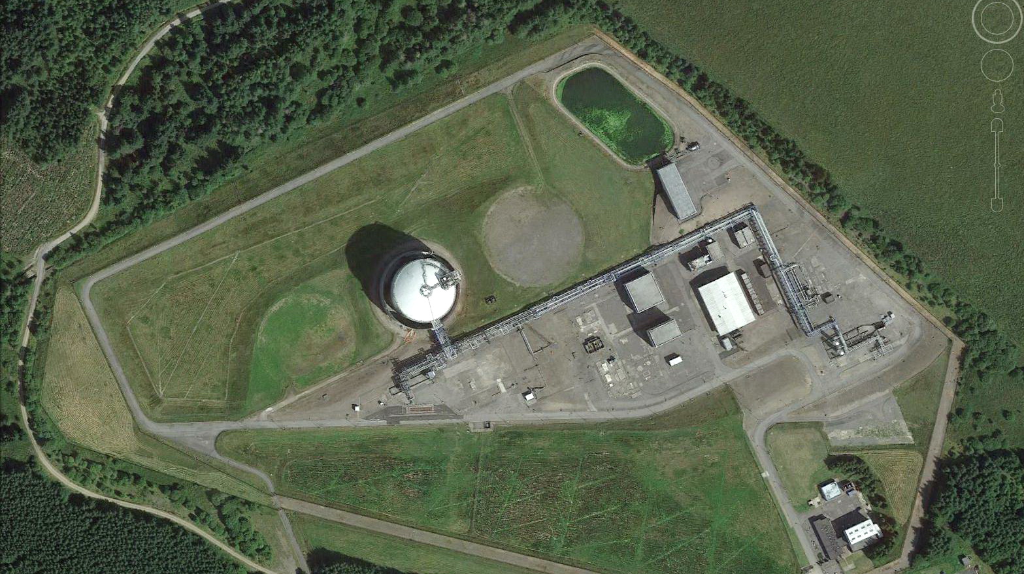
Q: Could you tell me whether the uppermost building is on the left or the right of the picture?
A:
right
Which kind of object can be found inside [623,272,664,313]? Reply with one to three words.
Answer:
house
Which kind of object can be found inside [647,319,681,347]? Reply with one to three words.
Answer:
house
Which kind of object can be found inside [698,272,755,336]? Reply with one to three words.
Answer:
building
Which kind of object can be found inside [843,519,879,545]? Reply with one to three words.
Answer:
building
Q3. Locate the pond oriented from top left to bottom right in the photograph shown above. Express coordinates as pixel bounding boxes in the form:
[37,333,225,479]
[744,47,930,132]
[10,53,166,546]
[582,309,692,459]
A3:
[556,67,674,163]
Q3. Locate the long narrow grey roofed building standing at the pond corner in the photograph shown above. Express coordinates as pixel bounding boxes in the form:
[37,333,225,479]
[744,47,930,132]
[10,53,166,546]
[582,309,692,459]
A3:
[655,162,696,219]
